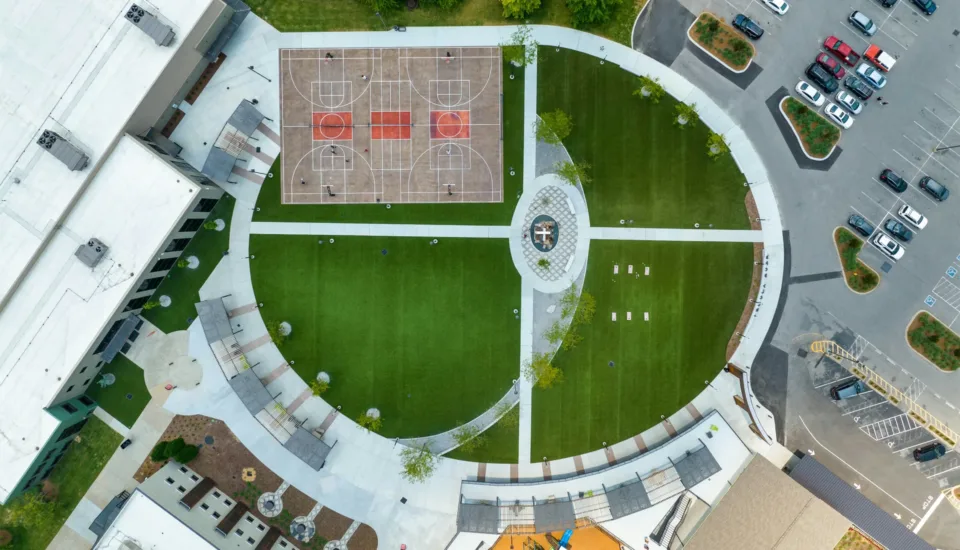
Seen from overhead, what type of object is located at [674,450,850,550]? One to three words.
building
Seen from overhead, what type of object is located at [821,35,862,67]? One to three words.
truck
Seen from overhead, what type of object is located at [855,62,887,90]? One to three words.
car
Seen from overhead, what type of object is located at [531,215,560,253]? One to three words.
fountain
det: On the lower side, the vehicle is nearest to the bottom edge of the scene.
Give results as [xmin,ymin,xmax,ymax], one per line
[911,441,945,463]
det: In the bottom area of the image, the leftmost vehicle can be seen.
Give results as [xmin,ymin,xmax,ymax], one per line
[829,379,864,400]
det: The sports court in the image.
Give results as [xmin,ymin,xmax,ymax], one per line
[279,46,503,204]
